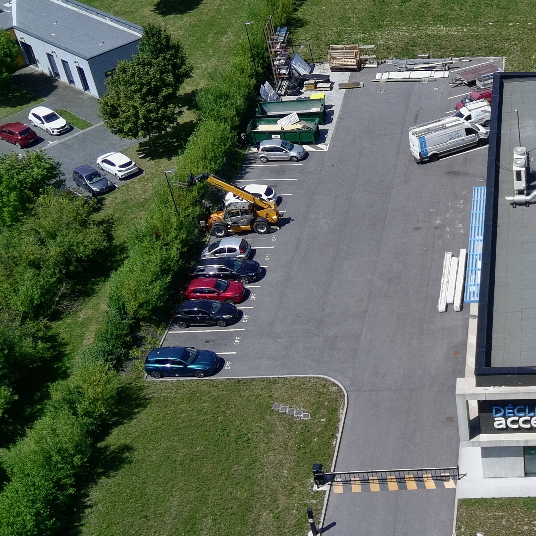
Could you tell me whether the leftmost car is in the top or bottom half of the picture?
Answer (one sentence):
The top half of the photo is where the leftmost car is.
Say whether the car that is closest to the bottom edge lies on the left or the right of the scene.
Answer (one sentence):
The car that is closest to the bottom edge appears in the left half of the scene.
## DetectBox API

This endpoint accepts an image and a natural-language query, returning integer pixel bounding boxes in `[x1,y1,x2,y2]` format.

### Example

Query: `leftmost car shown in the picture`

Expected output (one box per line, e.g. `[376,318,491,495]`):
[0,120,34,147]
